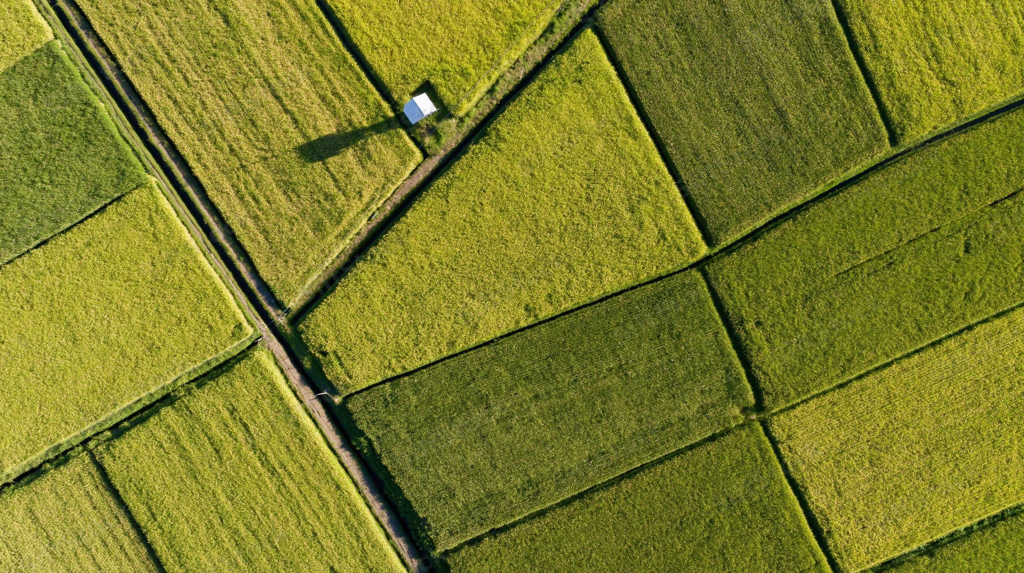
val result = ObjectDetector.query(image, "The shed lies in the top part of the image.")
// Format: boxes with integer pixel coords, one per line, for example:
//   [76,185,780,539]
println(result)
[404,93,439,124]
